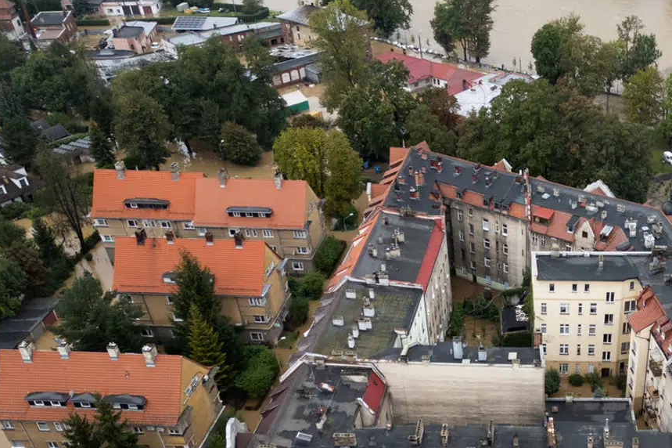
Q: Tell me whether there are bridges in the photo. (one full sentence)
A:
No, the scene contains no bridge.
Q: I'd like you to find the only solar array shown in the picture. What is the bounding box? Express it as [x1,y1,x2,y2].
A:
[174,18,207,30]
